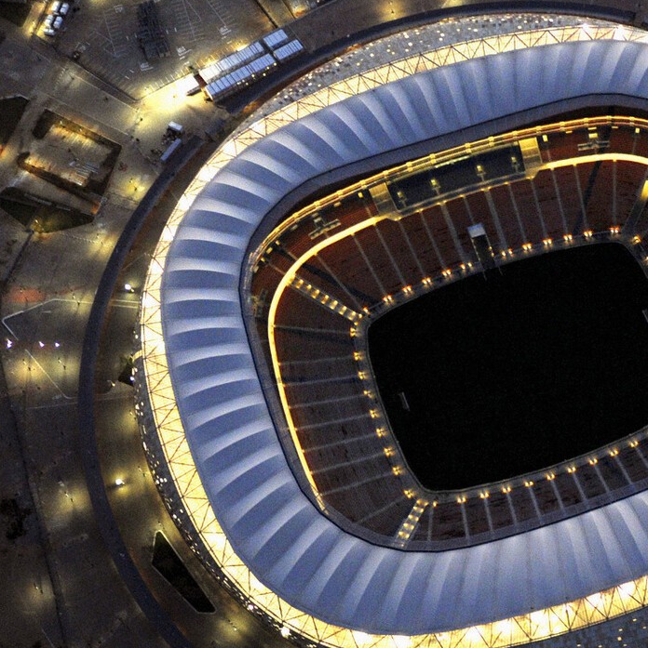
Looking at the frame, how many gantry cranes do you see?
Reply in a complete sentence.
Not a single gantry crane can be seen.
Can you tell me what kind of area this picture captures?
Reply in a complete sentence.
This looks like a sports ground.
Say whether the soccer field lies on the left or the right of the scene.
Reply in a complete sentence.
The soccer field is on the right side of the image.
